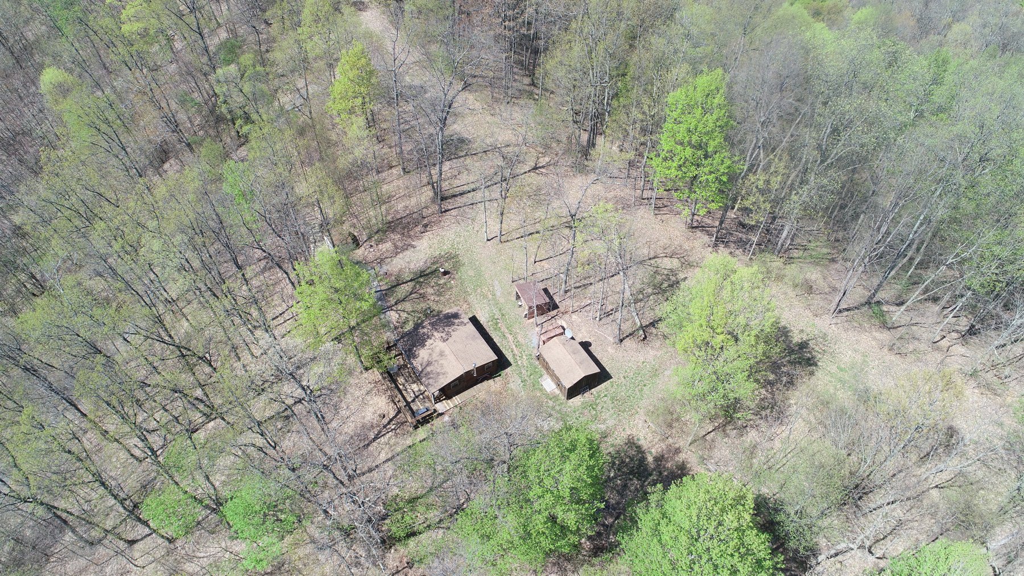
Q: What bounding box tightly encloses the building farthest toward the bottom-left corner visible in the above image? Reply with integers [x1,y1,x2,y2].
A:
[394,308,498,407]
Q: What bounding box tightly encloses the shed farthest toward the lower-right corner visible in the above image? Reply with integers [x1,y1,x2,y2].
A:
[539,336,600,397]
